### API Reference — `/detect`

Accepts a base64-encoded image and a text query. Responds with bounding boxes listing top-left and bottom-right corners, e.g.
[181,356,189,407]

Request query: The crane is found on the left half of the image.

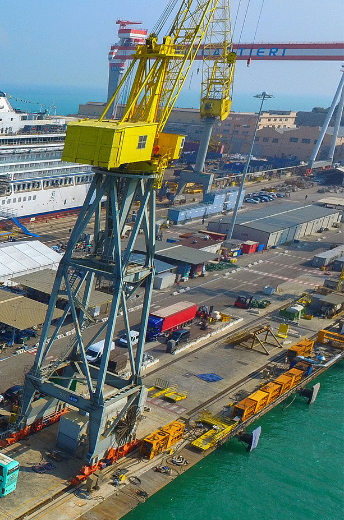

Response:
[0,0,259,483]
